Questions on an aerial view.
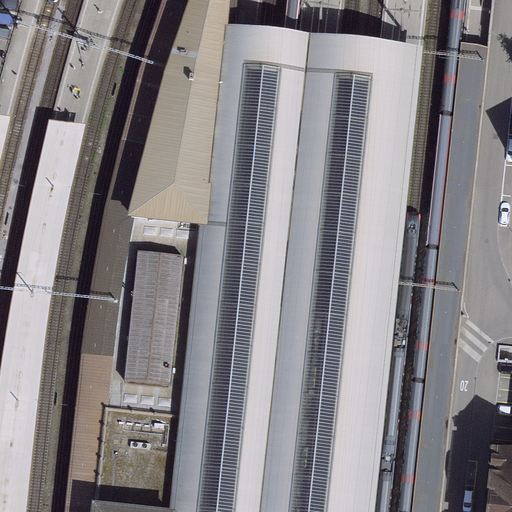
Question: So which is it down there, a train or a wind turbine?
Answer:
train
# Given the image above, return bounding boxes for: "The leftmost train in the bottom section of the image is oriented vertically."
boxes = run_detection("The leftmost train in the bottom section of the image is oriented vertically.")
[377,210,421,512]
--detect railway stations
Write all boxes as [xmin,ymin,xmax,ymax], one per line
[170,24,424,512]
